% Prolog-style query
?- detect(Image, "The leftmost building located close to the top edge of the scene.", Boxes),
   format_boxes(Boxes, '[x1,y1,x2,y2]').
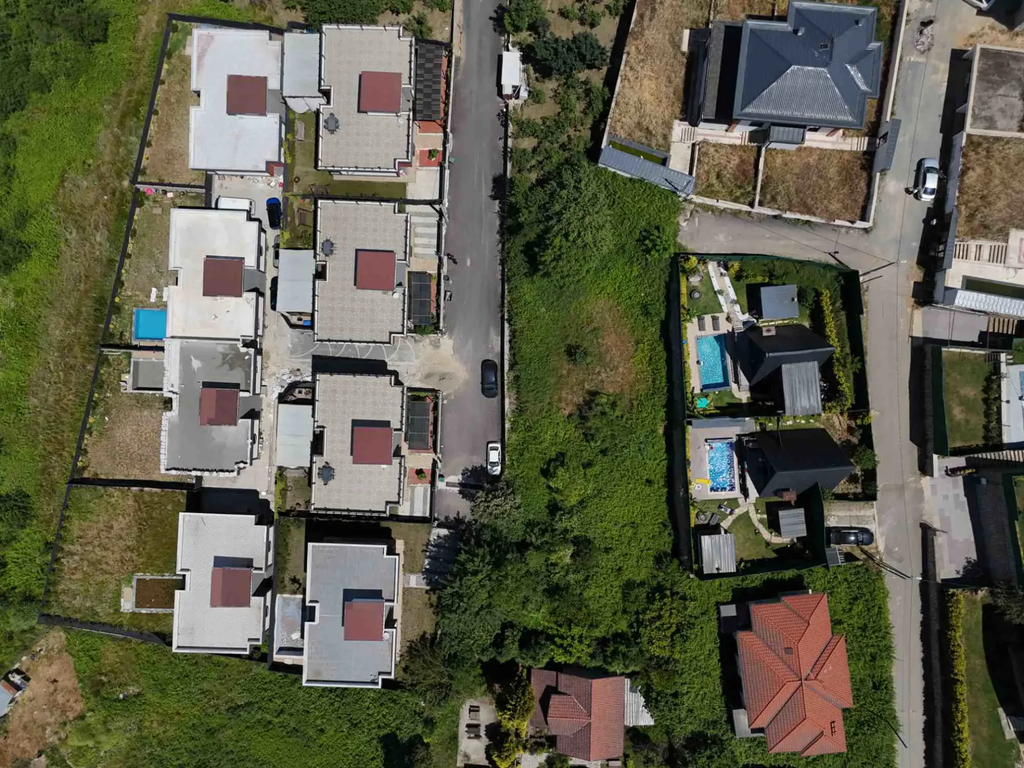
[189,29,292,180]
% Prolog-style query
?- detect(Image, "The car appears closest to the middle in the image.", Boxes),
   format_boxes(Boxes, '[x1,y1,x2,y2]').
[480,360,499,397]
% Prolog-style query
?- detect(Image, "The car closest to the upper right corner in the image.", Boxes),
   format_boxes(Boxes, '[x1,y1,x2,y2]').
[910,160,944,202]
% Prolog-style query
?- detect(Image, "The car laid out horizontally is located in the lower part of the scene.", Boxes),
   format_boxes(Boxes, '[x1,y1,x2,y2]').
[829,526,874,547]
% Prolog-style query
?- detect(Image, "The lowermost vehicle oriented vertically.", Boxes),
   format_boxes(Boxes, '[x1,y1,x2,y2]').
[486,440,503,476]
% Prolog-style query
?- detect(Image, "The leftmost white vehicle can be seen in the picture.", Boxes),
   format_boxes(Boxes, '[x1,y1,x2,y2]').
[213,195,256,215]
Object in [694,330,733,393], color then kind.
blue swimming pool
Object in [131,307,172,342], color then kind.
blue swimming pool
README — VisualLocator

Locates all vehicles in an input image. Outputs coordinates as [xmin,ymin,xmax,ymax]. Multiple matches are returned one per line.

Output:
[264,197,284,231]
[910,160,944,202]
[480,360,499,397]
[486,440,503,476]
[266,276,278,312]
[213,195,256,215]
[269,234,285,270]
[829,526,874,547]
[446,252,457,264]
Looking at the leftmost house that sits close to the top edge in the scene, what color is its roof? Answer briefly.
white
